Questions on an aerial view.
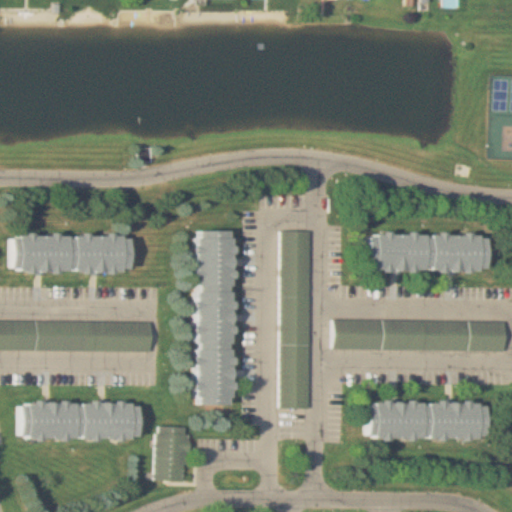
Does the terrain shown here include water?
Yes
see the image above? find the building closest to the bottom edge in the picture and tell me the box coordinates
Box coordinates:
[146,427,187,482]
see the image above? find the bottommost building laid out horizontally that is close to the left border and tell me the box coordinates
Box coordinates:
[15,401,144,442]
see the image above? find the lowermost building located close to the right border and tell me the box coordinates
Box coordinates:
[362,401,492,442]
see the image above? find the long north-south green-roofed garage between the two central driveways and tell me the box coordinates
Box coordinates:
[277,231,310,408]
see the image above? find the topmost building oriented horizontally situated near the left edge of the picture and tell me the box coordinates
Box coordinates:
[7,234,136,274]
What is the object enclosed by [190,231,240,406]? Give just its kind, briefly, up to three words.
building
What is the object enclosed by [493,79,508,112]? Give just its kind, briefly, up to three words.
sports court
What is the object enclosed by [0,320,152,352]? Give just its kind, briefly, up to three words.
building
